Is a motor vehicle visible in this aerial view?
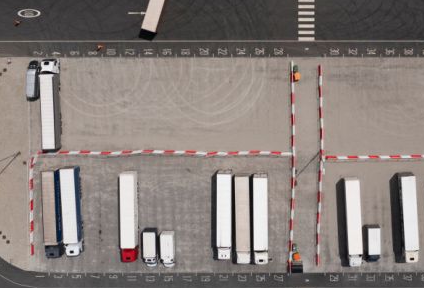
Yes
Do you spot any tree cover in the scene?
No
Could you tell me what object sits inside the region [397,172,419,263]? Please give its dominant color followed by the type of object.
white truck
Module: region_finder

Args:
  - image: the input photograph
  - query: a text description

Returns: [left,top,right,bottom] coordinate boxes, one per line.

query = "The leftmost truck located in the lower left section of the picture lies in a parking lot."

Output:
[41,167,65,260]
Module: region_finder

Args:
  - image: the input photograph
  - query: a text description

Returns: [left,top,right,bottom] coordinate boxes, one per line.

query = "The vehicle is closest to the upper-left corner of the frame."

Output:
[23,60,38,99]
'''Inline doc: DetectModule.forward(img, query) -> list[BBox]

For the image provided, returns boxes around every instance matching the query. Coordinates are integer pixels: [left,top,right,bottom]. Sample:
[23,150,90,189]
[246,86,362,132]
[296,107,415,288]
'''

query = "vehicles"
[120,170,139,263]
[397,172,419,263]
[161,231,175,262]
[143,227,158,266]
[234,173,252,264]
[217,170,233,261]
[141,0,167,33]
[365,224,382,265]
[41,167,65,260]
[39,57,62,150]
[23,60,38,99]
[59,165,84,258]
[253,173,270,265]
[344,176,364,268]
